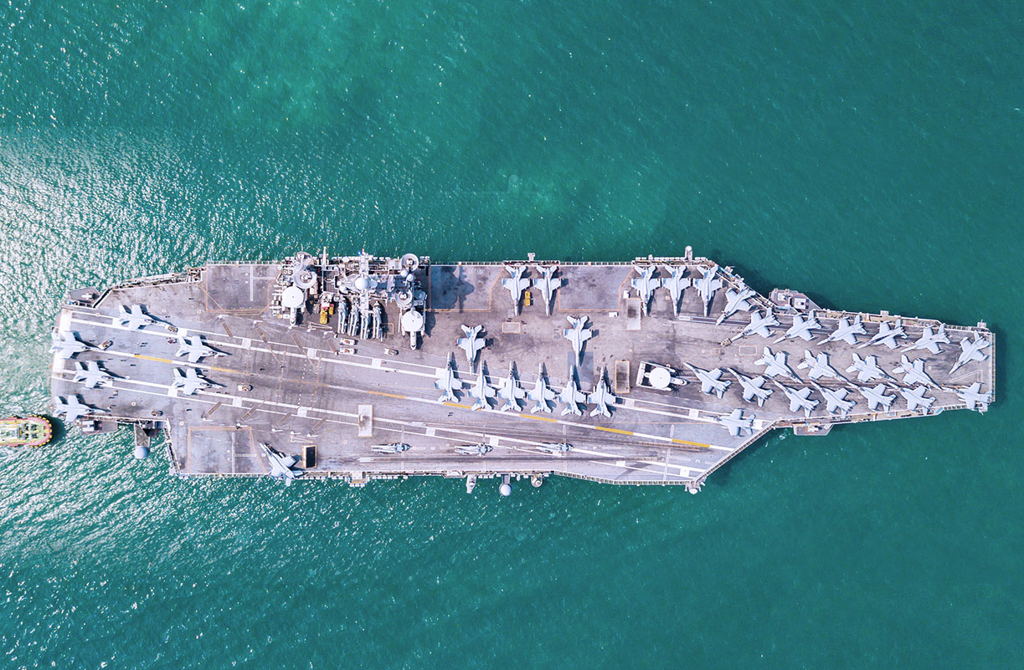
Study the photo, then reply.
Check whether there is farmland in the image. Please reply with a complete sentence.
No, the scene doesn't show any farmland.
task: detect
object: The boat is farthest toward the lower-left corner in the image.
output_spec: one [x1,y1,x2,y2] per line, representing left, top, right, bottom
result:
[0,414,51,450]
